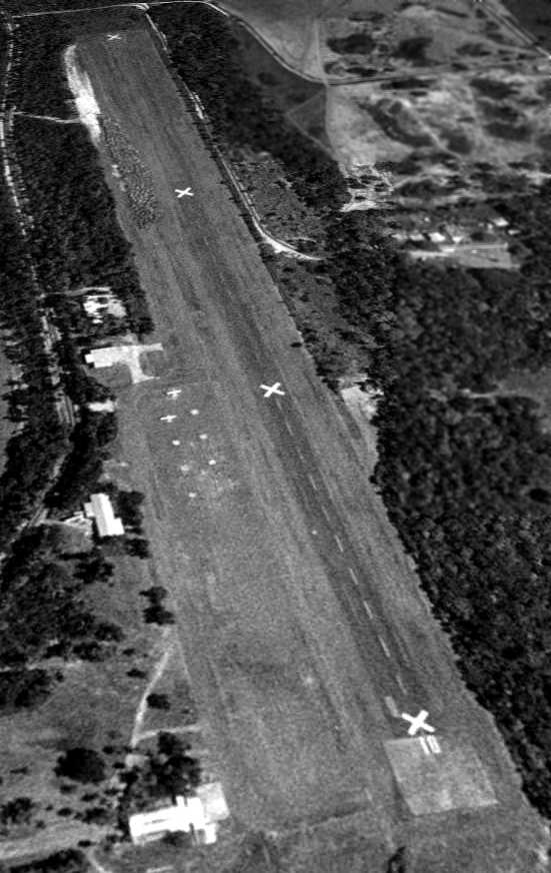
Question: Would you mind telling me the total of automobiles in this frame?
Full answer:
Not a single automobile can be seen.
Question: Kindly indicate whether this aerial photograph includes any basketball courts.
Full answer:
No, there's no basketball court here.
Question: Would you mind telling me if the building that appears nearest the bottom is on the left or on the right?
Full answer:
The building that appears nearest the bottom is on the left side of the image.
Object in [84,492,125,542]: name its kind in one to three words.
shed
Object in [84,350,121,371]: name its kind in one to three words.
hangar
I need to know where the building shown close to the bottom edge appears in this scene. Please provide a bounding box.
[128,793,218,847]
